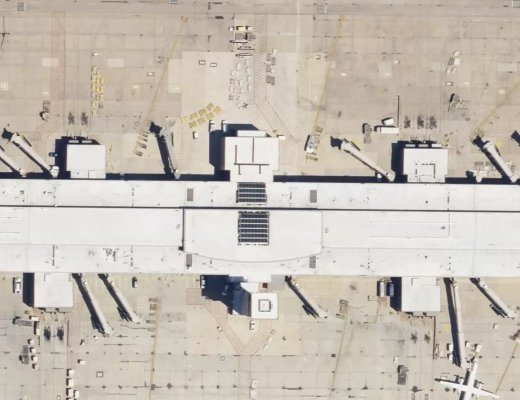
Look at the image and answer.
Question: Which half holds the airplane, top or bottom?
bottom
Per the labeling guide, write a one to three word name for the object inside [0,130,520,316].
building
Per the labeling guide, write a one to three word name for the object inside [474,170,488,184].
jet bridge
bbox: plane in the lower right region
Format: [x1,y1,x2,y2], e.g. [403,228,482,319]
[439,358,497,400]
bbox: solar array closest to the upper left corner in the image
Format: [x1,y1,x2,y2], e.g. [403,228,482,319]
[237,181,267,205]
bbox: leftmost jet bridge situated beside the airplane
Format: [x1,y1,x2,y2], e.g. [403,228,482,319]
[451,277,470,372]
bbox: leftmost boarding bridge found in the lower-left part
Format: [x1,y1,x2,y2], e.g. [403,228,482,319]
[79,273,117,339]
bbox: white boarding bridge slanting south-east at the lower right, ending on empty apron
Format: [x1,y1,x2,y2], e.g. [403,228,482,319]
[474,277,519,320]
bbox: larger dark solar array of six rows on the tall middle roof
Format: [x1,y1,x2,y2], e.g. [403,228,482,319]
[238,212,269,244]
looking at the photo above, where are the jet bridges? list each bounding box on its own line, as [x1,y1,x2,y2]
[336,142,392,183]
[8,130,58,179]
[477,138,516,184]
[286,275,331,321]
[159,130,180,181]
[104,273,143,326]
[79,273,117,339]
[474,277,519,320]
[0,144,27,179]
[474,170,488,184]
[451,277,470,372]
